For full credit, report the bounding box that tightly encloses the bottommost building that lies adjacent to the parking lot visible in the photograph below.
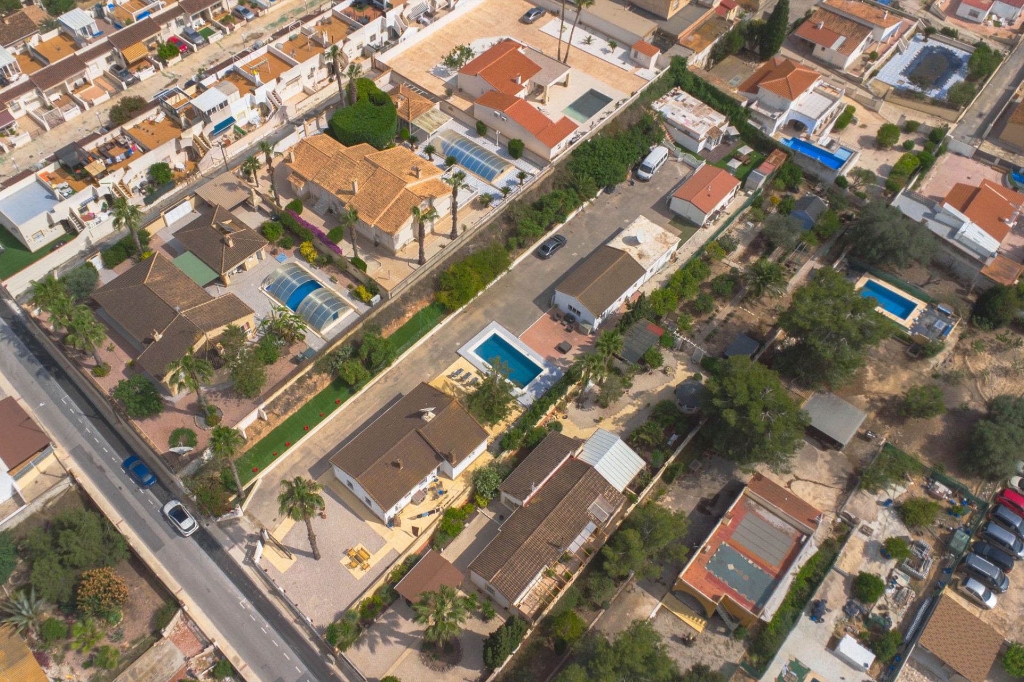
[909,594,1009,682]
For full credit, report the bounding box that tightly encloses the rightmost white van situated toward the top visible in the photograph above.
[638,139,669,175]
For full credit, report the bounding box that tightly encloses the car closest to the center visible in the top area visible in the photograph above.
[537,230,568,258]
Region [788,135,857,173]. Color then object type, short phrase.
blue swimming pool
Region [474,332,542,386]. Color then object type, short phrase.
blue swimming pool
